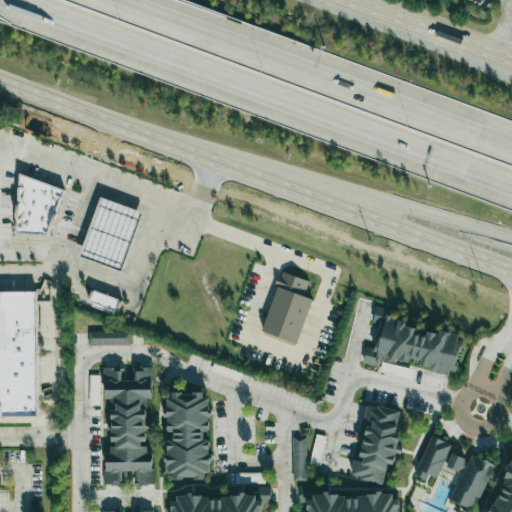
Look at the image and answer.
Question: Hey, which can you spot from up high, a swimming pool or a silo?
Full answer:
Of the two, only a swimming pool appears.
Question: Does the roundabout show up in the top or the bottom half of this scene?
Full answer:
You can find the roundabout in the bottom half.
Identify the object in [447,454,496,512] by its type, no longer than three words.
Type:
building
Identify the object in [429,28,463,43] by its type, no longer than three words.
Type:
vehicle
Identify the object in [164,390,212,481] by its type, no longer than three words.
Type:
building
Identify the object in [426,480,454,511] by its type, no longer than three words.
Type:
swimming pool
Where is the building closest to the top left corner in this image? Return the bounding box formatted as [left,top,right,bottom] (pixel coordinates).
[17,174,66,236]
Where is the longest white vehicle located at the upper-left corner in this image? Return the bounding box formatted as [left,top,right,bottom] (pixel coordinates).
[8,3,54,26]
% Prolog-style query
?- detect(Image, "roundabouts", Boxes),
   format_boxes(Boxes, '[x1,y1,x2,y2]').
[454,357,512,438]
